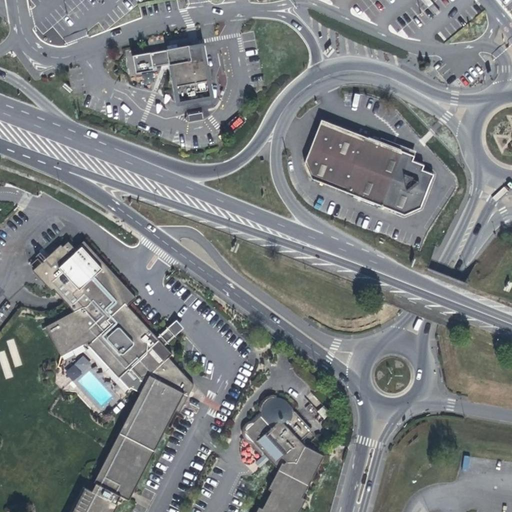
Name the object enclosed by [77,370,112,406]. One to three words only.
swimming pool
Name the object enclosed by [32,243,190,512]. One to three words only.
building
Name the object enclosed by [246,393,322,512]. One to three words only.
building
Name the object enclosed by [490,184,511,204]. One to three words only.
vehicle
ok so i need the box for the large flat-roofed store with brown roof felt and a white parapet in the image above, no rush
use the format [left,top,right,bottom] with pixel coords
[304,120,438,218]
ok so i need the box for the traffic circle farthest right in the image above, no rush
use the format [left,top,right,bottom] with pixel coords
[460,79,512,191]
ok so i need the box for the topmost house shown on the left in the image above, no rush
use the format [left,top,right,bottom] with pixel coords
[132,43,212,104]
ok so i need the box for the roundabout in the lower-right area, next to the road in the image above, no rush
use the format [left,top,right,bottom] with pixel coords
[356,340,428,412]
